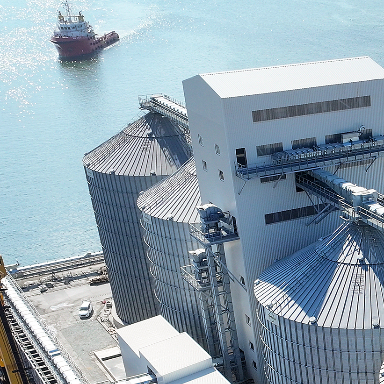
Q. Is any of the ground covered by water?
Yes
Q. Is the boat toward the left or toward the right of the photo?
left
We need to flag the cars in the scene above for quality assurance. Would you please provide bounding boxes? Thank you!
[76,302,92,319]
